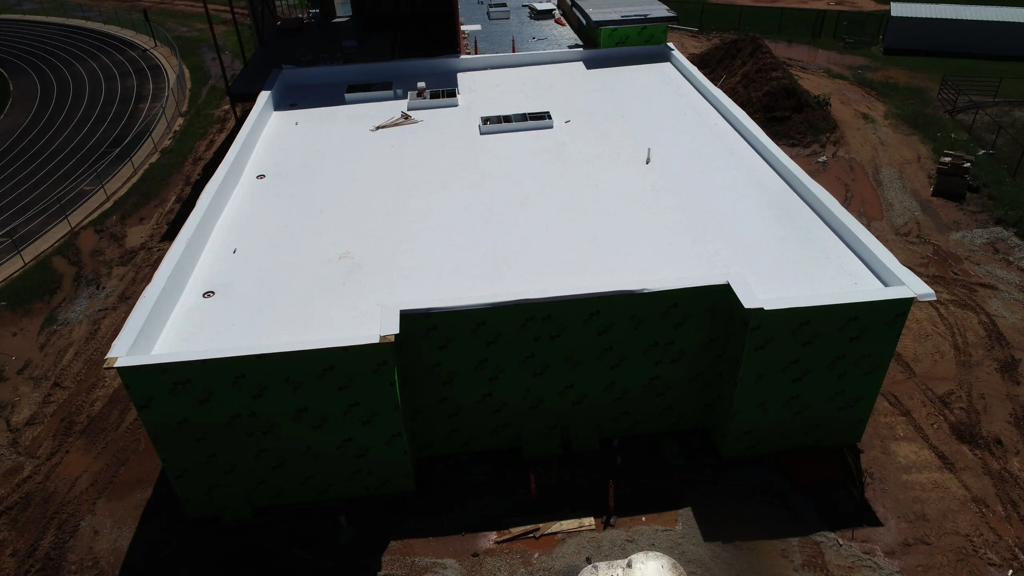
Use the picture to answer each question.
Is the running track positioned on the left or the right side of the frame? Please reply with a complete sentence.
You can find the running track on the left side of the picture.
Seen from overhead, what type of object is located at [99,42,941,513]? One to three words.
building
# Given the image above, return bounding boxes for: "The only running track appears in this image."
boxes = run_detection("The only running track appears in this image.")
[0,18,171,256]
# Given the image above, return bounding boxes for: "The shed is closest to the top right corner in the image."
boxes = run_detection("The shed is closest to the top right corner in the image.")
[879,0,1024,62]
